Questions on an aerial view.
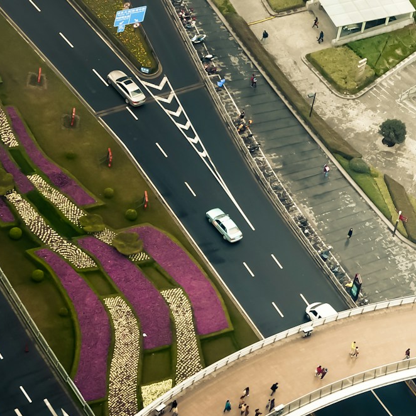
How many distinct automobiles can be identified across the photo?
3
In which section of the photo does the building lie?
top right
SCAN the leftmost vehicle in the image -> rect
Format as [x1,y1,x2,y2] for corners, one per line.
[106,71,146,107]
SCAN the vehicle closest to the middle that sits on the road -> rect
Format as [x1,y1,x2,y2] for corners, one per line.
[204,209,245,243]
